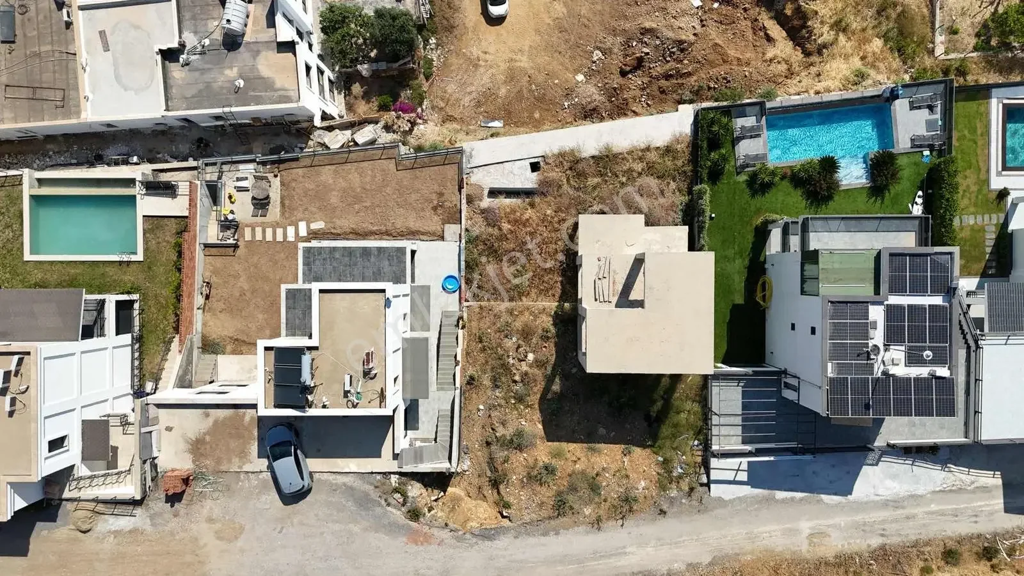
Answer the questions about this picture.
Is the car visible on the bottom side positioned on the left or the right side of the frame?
left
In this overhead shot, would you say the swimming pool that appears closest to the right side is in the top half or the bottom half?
top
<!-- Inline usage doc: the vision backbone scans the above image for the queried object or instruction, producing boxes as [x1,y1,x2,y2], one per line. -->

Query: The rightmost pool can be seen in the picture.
[985,90,1024,205]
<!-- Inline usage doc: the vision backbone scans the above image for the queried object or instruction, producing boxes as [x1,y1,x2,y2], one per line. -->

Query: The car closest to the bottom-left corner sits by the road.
[266,419,316,500]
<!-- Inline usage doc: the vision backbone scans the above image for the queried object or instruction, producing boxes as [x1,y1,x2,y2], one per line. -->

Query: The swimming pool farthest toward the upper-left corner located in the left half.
[24,169,192,261]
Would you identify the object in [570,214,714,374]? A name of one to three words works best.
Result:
house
